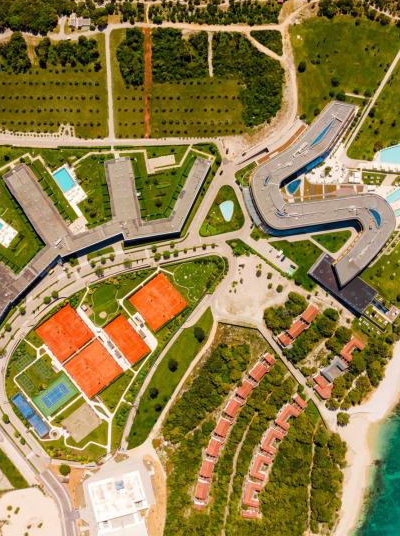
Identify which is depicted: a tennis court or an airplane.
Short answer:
tennis court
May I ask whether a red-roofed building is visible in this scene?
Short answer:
Yes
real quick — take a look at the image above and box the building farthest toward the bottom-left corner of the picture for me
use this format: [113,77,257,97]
[88,466,149,536]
